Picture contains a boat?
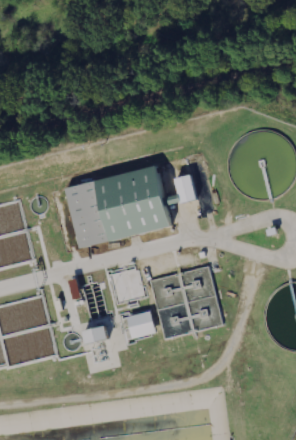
No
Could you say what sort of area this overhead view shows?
industrial area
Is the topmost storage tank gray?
No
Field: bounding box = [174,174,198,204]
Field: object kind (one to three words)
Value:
building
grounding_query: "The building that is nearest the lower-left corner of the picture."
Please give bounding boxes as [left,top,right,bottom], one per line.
[81,325,108,346]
